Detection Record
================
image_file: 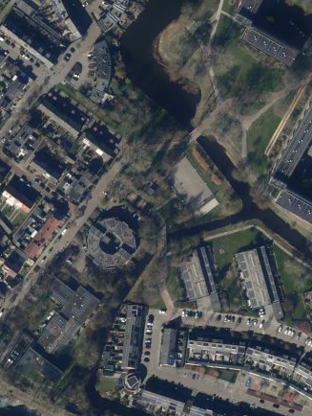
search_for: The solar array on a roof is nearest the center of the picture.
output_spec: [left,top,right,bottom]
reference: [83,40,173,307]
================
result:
[183,259,204,299]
